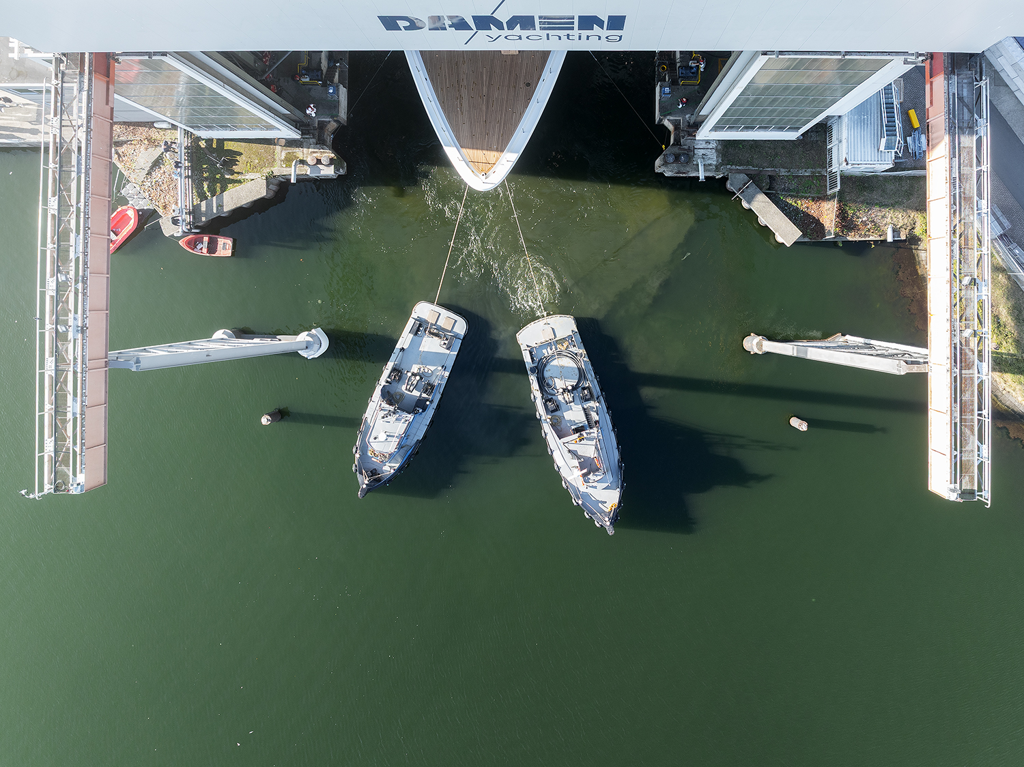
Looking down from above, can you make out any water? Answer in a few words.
Yes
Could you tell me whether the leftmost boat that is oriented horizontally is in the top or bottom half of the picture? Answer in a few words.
top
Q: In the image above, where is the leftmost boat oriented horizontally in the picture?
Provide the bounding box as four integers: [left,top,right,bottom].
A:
[180,234,233,256]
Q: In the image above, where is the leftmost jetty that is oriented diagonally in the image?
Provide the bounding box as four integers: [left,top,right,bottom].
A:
[118,180,156,219]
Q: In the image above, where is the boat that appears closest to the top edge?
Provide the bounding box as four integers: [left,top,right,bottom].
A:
[405,52,566,191]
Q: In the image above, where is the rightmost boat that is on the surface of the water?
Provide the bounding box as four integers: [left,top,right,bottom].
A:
[515,313,626,537]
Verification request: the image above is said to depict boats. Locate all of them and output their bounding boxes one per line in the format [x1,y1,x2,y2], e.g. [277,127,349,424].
[405,52,566,191]
[180,234,233,256]
[515,313,626,537]
[351,299,470,500]
[114,206,140,252]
